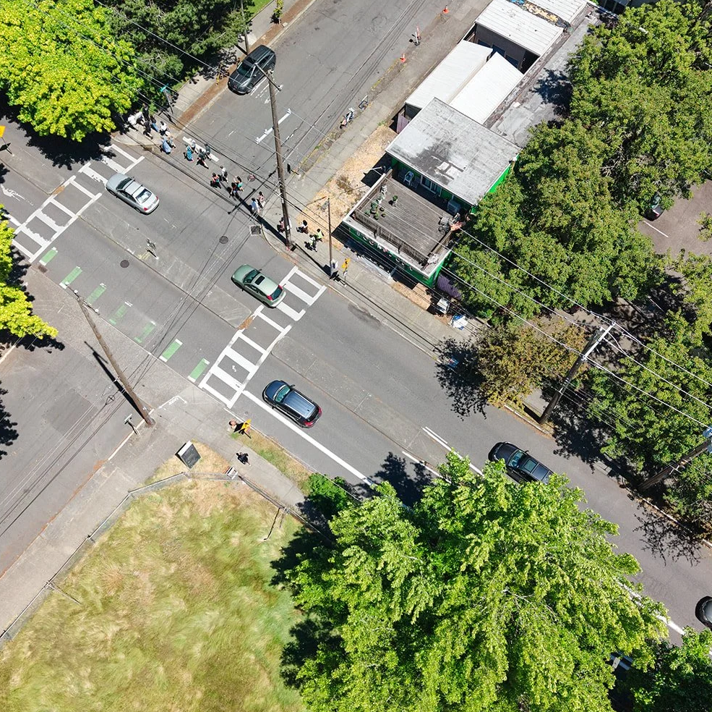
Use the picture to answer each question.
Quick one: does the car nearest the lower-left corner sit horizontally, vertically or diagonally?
diagonally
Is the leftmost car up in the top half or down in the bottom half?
top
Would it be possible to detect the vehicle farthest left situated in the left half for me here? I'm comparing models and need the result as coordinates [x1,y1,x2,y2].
[103,173,163,218]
